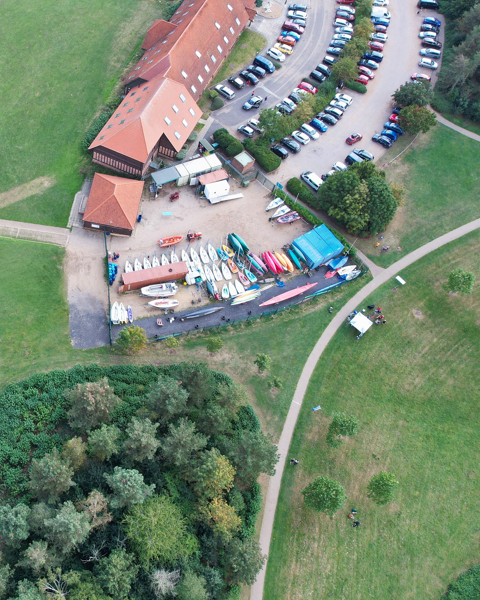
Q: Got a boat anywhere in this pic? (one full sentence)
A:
Yes, a boat can be made out from above.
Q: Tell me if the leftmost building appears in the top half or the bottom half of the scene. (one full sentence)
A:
It is in the top half that the leftmost building appears.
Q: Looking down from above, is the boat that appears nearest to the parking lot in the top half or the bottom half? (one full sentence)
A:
You can find the boat that appears nearest to the parking lot in the top half.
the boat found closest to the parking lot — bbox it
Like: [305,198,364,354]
[264,183,285,211]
